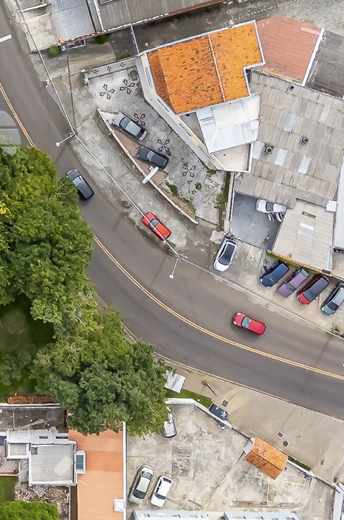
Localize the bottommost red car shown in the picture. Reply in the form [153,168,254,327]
[234,312,267,336]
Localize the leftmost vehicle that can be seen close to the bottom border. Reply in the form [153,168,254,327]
[130,467,154,504]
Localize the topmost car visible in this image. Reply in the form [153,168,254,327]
[113,113,148,142]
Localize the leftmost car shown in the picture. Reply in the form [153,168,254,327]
[66,169,96,201]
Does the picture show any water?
No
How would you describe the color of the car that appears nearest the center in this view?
red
